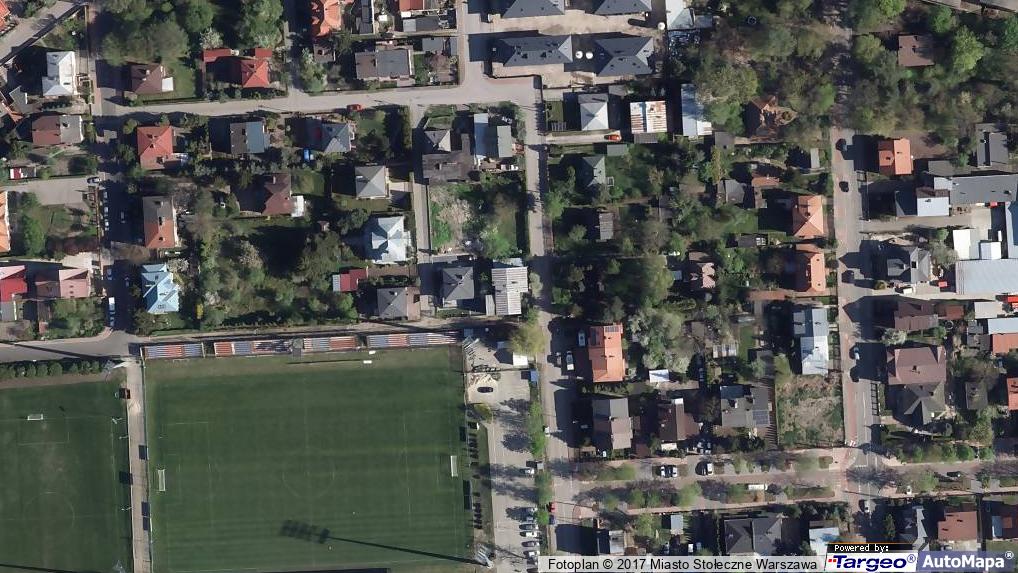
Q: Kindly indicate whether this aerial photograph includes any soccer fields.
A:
Yes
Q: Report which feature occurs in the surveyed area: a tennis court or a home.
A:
home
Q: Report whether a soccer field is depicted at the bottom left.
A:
Yes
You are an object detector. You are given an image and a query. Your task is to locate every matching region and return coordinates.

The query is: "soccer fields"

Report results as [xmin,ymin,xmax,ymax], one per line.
[144,343,476,573]
[0,382,133,573]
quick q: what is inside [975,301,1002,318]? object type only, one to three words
building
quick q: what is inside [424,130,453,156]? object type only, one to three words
house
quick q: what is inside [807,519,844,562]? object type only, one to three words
house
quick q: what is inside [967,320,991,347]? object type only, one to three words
shed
